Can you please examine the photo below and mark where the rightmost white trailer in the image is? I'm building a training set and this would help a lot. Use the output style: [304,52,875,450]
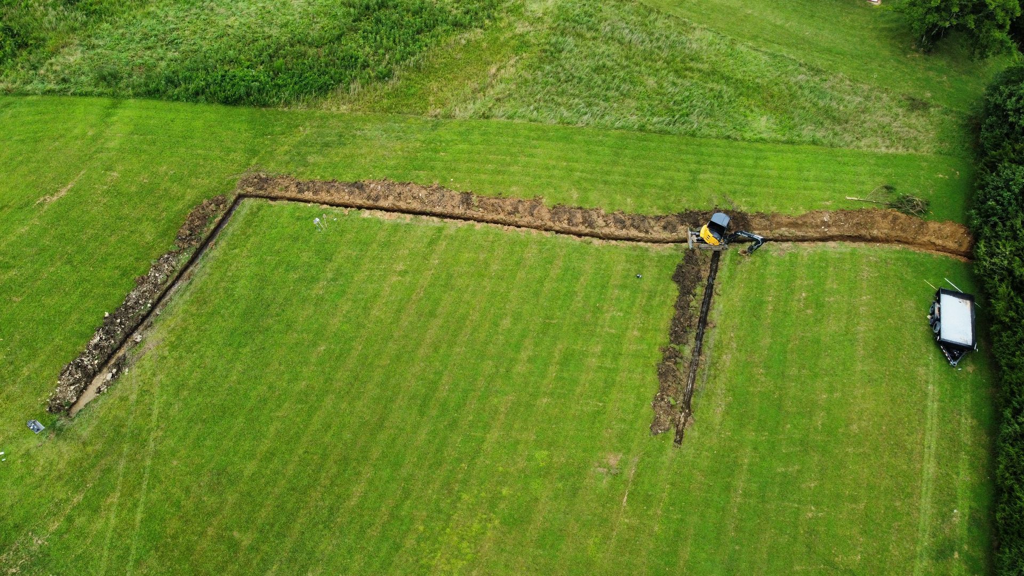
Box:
[926,288,978,368]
